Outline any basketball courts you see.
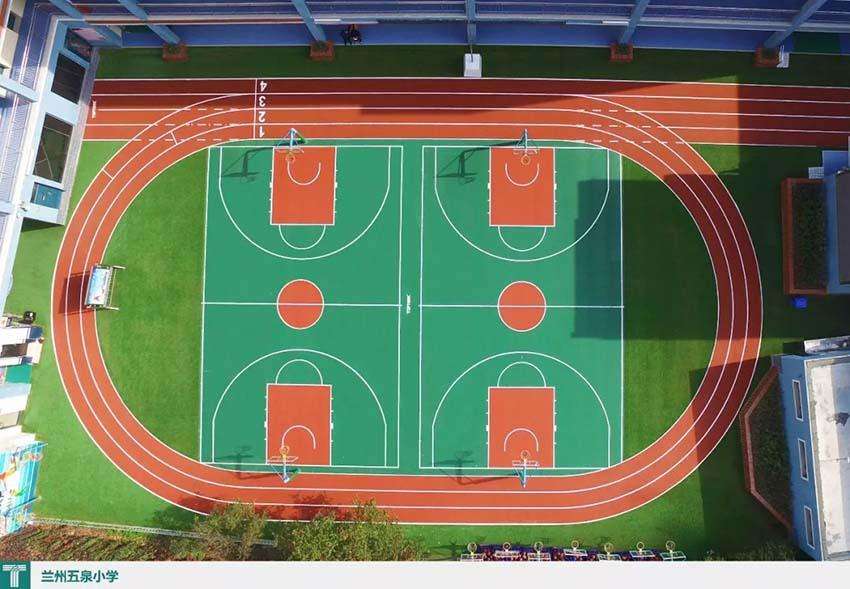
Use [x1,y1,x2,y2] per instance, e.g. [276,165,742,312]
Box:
[408,137,625,479]
[200,138,413,477]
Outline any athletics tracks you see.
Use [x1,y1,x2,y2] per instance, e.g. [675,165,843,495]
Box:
[51,76,850,529]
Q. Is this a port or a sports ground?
sports ground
